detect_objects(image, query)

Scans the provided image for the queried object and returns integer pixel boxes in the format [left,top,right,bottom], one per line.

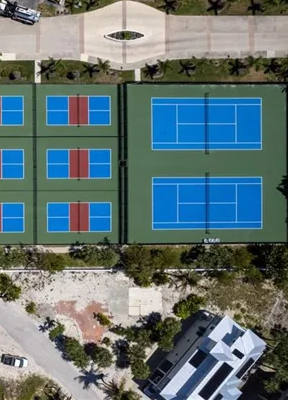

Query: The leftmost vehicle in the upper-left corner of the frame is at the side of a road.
[0,0,42,26]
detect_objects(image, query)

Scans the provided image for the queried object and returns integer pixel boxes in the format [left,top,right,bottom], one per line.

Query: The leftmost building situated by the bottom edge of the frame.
[142,307,268,400]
